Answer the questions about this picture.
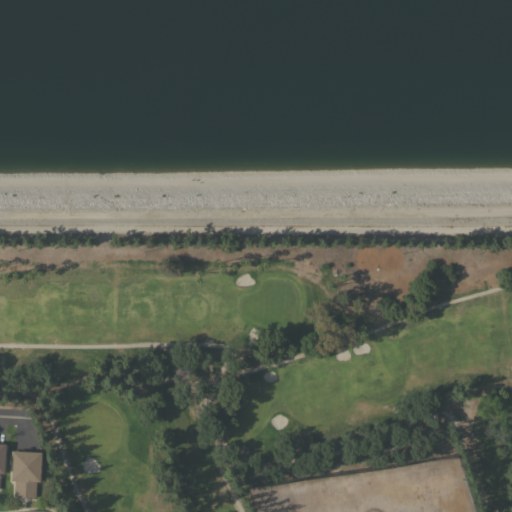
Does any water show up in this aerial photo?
Yes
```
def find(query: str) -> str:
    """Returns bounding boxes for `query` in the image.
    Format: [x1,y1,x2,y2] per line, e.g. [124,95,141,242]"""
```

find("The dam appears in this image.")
[0,168,512,269]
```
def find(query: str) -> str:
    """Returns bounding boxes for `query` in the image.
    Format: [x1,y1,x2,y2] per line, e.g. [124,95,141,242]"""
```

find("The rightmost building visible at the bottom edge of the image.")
[12,452,42,500]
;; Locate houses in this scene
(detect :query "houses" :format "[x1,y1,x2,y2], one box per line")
[12,452,42,500]
[0,444,6,490]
